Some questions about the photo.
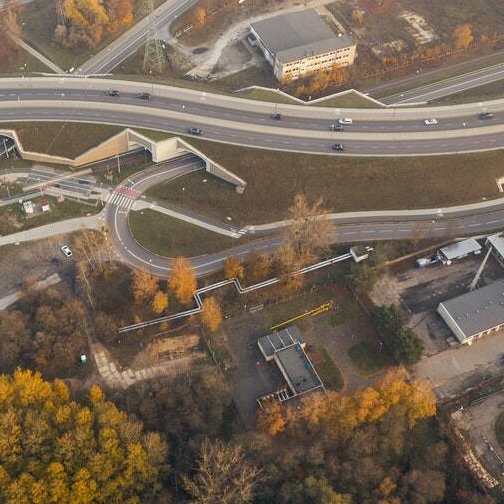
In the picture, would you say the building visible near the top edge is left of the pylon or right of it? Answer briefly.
right of it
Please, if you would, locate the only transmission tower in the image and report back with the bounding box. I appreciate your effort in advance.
[144,0,168,75]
